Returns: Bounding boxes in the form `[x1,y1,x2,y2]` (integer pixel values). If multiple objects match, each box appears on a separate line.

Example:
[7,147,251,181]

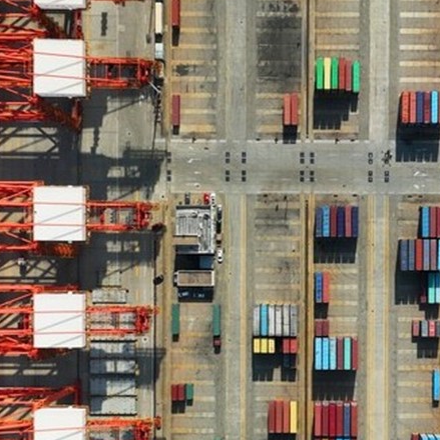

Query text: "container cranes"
[0,0,94,41]
[0,271,159,363]
[0,369,159,440]
[0,179,159,259]
[0,33,159,125]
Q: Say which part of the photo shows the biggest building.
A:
center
